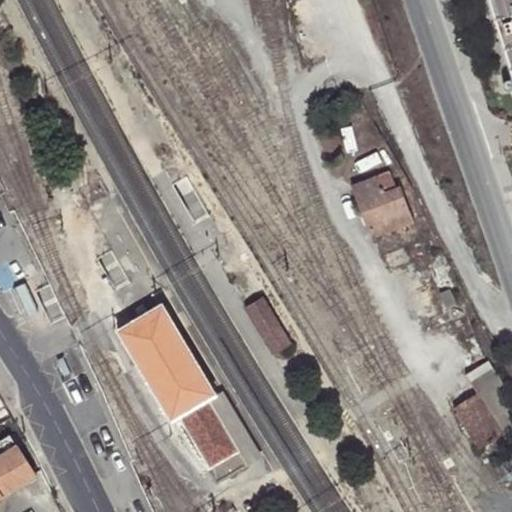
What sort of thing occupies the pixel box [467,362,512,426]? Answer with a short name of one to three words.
building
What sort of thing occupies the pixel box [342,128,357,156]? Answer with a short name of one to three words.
camper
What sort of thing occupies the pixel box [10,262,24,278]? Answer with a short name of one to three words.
vehicle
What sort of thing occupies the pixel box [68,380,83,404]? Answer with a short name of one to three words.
vehicle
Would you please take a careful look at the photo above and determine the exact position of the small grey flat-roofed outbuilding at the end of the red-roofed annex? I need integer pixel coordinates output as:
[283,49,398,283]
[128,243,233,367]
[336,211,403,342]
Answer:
[211,454,247,483]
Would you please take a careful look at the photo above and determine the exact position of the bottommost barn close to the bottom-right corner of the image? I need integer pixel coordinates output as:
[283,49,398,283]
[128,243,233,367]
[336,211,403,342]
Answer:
[454,396,502,458]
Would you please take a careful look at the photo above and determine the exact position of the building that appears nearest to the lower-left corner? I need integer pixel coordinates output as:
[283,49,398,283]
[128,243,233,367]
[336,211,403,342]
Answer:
[0,445,36,502]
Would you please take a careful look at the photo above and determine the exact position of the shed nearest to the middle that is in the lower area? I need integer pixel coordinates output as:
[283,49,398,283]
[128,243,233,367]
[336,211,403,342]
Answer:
[246,294,294,354]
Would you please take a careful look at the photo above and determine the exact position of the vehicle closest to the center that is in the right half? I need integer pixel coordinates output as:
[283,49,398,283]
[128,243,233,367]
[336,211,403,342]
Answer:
[342,194,356,220]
